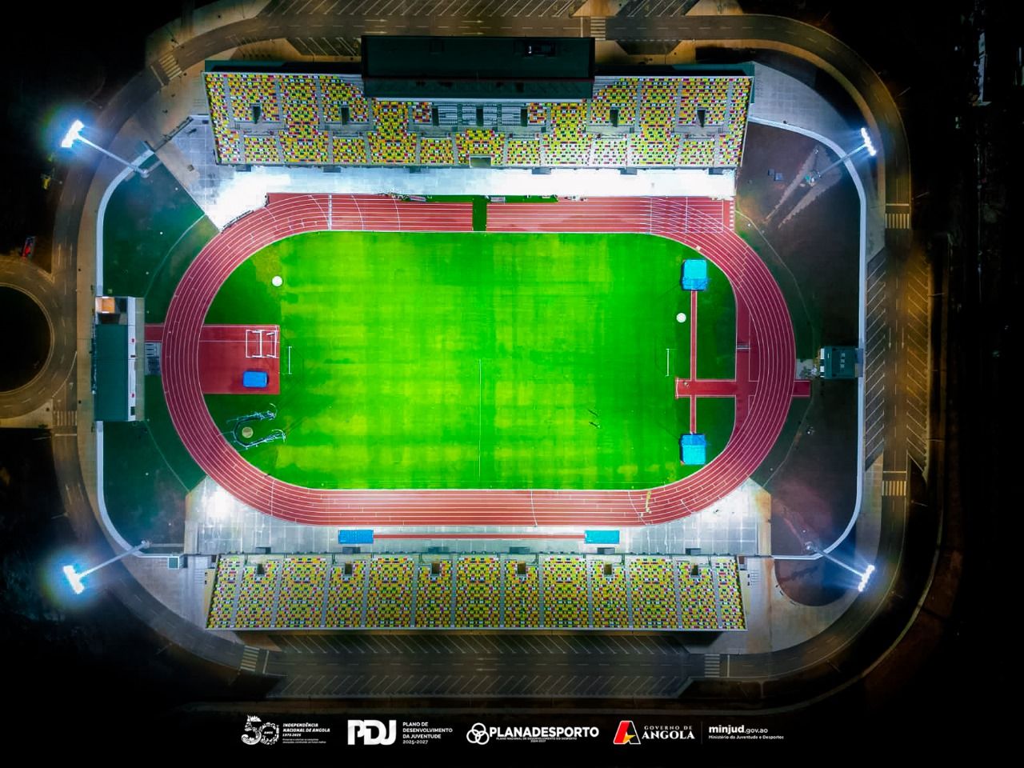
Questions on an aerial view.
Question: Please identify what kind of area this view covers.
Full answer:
This looks like a sports ground.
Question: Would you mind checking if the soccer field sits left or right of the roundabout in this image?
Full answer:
In the image, the soccer field sits on the right side of the roundabout.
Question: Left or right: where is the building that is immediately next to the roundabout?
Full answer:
It is on the left.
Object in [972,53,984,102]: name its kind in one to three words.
shed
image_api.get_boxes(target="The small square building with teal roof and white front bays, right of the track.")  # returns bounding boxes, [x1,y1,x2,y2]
[818,346,859,379]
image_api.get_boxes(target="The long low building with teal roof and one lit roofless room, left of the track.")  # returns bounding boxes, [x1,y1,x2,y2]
[93,298,144,421]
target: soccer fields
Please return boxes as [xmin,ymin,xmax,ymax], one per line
[204,231,736,489]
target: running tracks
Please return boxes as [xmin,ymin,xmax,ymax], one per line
[162,194,795,526]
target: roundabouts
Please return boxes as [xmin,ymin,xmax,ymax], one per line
[0,257,76,418]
